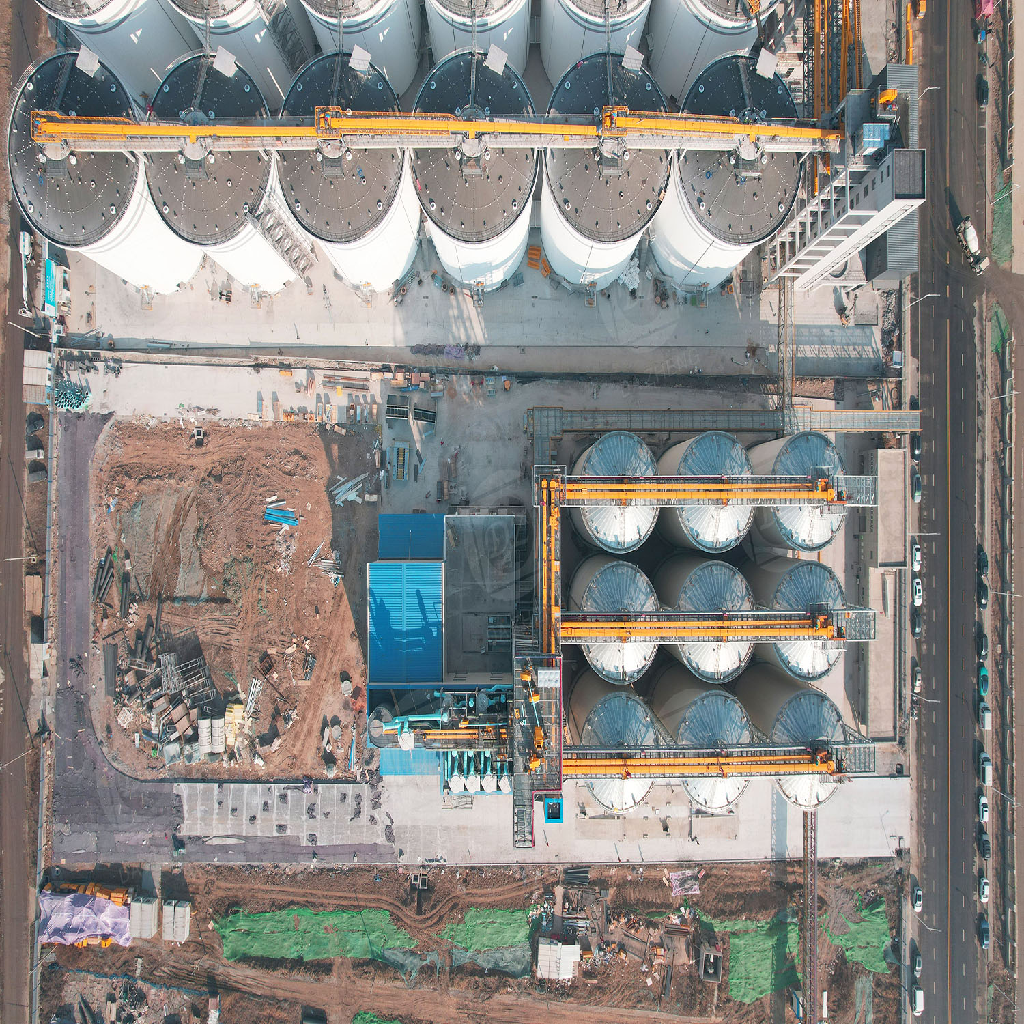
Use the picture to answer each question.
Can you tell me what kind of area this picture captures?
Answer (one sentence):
The area seen from above is an industrial area.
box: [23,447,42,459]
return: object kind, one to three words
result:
vehicle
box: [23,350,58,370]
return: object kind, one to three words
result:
building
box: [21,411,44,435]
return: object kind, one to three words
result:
car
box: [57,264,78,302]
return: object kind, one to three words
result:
building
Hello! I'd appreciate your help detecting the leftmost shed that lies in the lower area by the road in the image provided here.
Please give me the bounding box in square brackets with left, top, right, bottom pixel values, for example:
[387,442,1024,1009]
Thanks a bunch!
[30,641,51,679]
